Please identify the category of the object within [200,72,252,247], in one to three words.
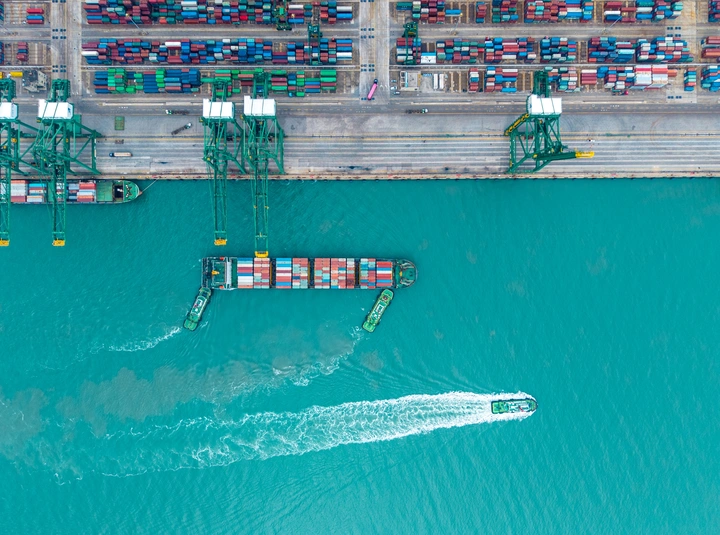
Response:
container crane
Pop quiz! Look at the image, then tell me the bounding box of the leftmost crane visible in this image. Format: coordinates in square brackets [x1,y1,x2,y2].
[0,72,55,248]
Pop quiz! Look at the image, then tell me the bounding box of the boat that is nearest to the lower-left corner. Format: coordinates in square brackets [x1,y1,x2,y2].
[184,288,212,331]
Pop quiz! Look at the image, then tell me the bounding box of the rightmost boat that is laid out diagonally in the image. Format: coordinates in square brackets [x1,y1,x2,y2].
[364,290,394,331]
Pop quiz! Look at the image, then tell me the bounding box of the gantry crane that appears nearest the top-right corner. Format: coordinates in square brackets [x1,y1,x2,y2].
[503,70,593,174]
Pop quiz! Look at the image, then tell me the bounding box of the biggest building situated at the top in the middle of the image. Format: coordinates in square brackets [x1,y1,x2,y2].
[400,69,421,91]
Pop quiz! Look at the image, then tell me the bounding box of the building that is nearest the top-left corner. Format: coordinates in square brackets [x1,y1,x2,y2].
[20,68,46,92]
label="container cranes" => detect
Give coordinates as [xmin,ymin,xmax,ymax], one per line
[242,70,288,259]
[306,22,323,66]
[400,22,418,66]
[503,70,593,174]
[30,72,105,248]
[200,72,252,247]
[273,0,292,31]
[0,72,55,248]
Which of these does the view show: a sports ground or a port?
port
